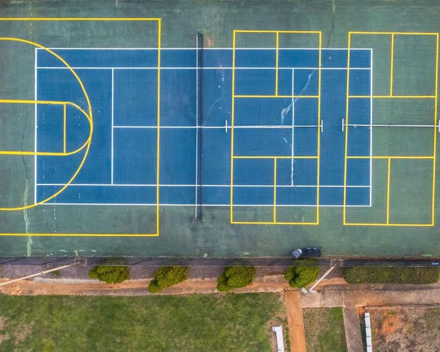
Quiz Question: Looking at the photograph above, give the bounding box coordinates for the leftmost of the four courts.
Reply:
[0,18,160,237]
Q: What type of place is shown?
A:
sports ground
